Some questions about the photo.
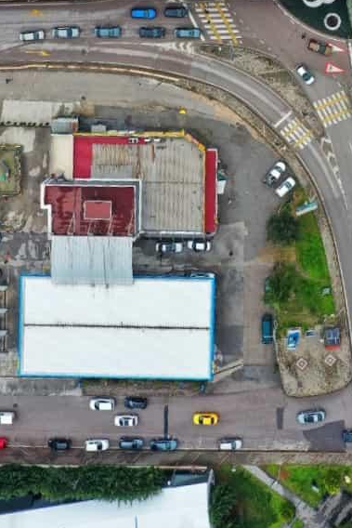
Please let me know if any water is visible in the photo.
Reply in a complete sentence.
No, the picture contains no water.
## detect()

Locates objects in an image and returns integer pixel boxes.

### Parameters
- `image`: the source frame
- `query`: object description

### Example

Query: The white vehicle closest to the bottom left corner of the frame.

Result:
[0,407,17,422]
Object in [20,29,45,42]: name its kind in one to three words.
vehicle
